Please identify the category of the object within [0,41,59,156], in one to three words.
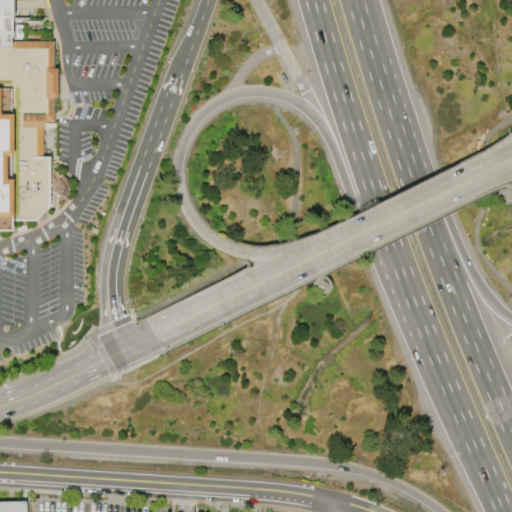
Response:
building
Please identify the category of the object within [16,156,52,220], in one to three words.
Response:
building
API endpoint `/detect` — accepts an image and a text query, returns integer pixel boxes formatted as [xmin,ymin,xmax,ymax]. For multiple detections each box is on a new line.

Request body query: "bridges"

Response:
[148,134,512,352]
